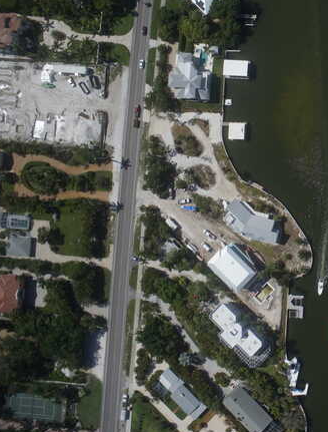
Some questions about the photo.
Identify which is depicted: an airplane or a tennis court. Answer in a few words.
tennis court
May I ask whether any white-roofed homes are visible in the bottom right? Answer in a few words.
Yes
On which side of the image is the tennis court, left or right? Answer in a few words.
left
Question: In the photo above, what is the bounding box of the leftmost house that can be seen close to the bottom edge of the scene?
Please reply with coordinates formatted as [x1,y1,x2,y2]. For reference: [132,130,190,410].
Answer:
[152,369,206,419]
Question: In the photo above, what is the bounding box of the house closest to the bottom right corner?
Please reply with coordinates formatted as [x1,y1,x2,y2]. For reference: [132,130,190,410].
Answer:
[224,385,283,432]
